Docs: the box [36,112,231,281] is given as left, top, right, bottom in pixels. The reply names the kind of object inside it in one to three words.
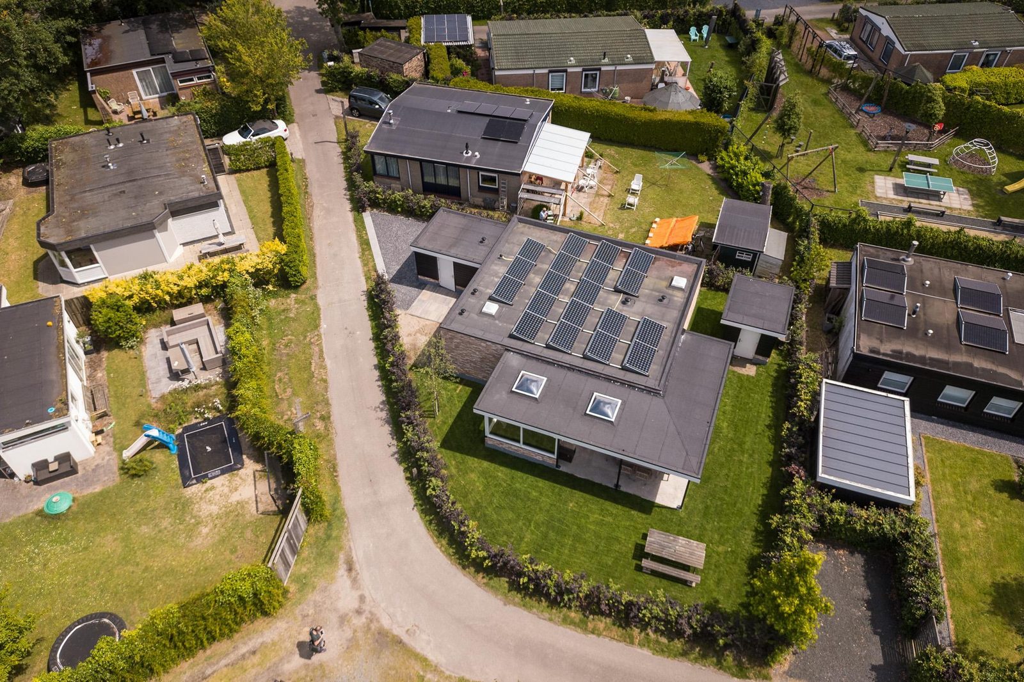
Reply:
house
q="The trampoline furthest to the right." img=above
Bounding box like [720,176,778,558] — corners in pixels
[179,417,246,491]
